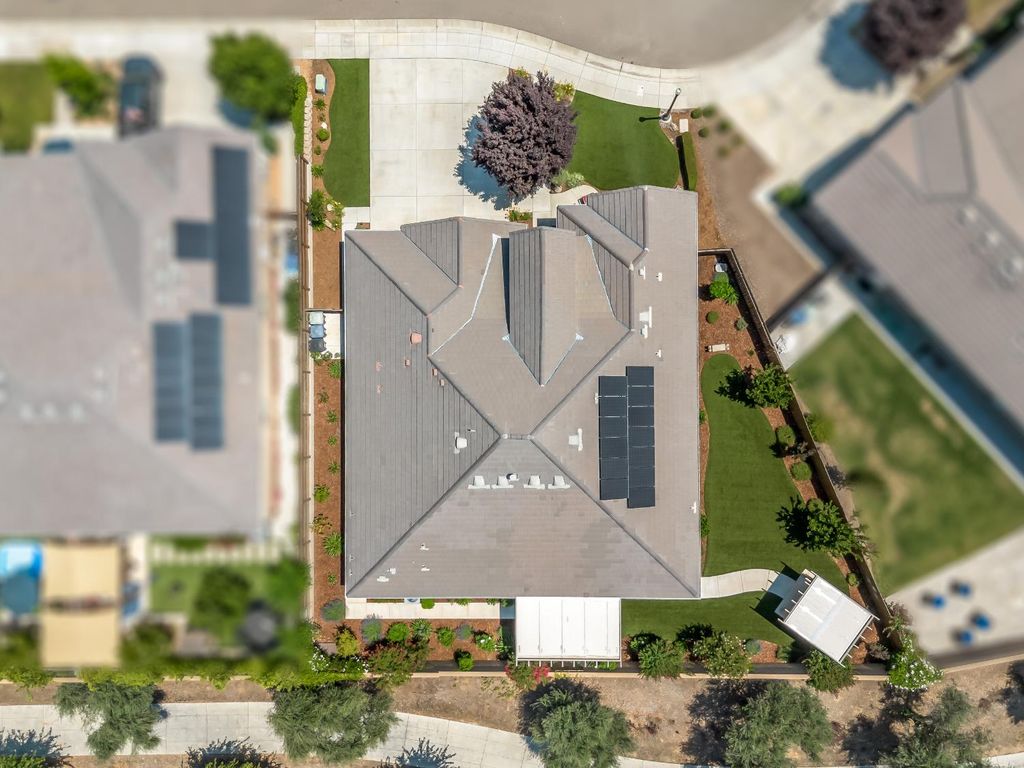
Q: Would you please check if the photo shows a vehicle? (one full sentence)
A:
Yes, the frame does contain a vehicle.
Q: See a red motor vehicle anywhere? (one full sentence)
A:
No, no red motor vehicle can be seen from above.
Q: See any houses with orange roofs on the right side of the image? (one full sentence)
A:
No, I can find no house with an orange roof on the right side of the image.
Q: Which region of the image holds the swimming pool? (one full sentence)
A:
Look in the bottom left portion of the view to spot the swimming pool.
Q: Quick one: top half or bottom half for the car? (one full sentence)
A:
You can find the car in the top half.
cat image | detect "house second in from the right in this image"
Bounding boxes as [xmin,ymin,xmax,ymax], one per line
[342,185,702,599]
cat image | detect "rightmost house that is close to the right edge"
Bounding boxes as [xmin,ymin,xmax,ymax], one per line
[806,0,1024,433]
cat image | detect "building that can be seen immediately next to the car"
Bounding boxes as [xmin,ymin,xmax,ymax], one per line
[0,126,260,537]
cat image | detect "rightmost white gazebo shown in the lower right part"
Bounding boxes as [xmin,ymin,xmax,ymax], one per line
[776,571,878,666]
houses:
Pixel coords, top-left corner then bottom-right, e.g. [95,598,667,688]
[806,0,1024,433]
[0,126,260,537]
[342,185,702,599]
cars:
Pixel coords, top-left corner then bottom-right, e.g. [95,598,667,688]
[118,55,165,141]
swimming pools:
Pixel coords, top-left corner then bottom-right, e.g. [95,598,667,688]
[0,567,46,614]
